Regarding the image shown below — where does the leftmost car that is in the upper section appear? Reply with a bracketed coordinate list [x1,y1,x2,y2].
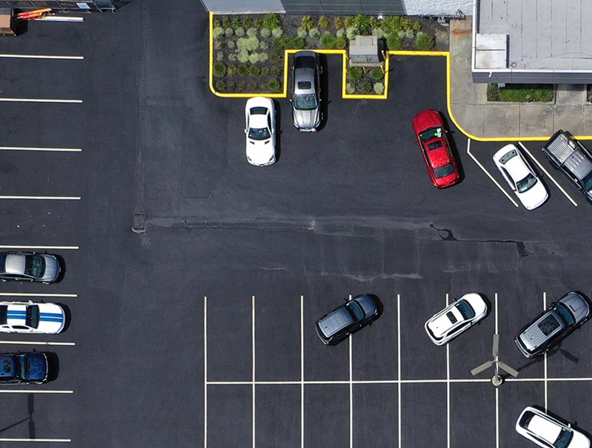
[242,97,279,170]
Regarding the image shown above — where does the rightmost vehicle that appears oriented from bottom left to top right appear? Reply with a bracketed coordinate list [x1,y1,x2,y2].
[513,293,592,360]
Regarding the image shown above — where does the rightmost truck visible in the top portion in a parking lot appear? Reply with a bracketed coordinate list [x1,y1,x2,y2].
[539,126,592,207]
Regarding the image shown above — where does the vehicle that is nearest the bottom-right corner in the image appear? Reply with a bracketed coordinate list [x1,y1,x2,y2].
[516,406,591,448]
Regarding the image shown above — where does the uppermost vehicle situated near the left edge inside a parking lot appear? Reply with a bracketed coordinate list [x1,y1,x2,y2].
[0,247,64,285]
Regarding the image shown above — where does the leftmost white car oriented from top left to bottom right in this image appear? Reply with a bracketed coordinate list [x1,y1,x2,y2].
[490,140,548,215]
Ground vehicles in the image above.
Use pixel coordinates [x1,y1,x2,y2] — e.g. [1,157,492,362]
[425,291,495,350]
[287,51,326,134]
[315,293,385,348]
[513,293,592,360]
[490,140,548,215]
[516,406,591,448]
[0,298,68,336]
[242,97,279,170]
[415,110,460,191]
[539,126,592,207]
[0,348,54,389]
[0,247,64,285]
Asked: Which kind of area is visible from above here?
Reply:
parking lot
